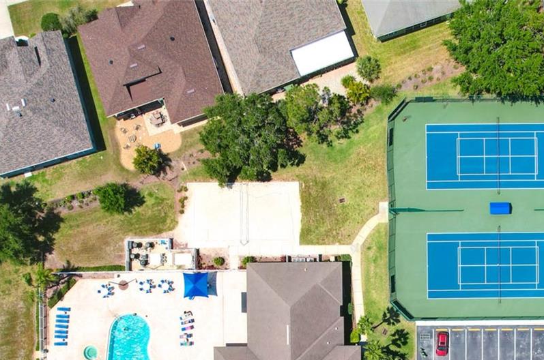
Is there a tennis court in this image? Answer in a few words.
Yes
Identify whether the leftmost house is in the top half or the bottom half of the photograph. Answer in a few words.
top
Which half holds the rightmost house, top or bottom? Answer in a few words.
top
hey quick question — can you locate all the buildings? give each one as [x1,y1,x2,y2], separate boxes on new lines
[0,26,97,176]
[79,0,226,133]
[364,0,458,43]
[209,0,355,98]
[214,262,362,360]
